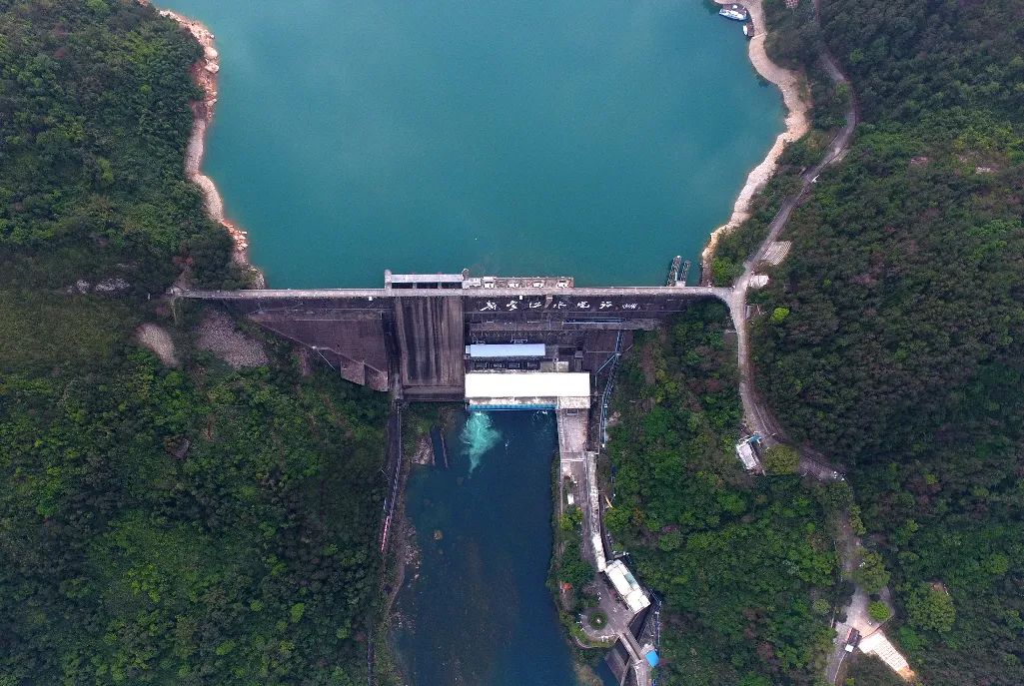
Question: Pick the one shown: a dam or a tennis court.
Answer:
dam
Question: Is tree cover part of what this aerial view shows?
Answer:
Yes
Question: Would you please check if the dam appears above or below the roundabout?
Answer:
above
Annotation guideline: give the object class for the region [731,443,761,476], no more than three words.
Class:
house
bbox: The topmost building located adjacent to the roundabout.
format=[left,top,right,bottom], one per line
[604,560,650,614]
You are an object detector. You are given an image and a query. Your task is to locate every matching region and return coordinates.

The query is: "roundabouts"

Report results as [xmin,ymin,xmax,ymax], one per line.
[581,601,614,637]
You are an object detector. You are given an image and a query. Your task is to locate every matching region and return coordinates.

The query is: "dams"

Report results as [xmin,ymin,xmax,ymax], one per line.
[182,269,746,401]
